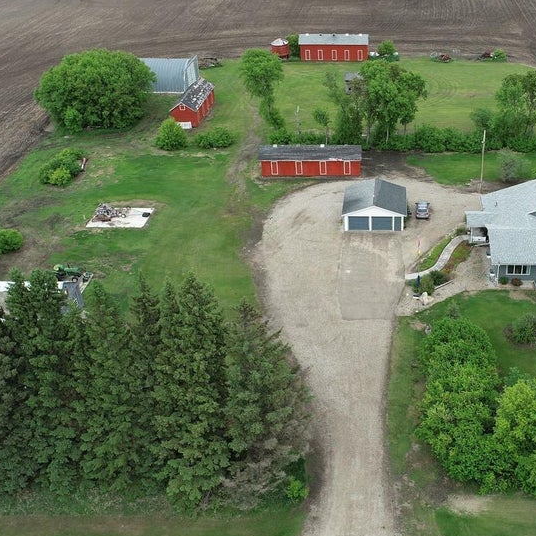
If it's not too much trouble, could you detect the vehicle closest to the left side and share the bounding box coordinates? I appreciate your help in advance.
[43,263,82,281]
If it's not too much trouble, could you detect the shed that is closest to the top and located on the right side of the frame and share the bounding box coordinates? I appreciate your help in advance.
[297,33,369,61]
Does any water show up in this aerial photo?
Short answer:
No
